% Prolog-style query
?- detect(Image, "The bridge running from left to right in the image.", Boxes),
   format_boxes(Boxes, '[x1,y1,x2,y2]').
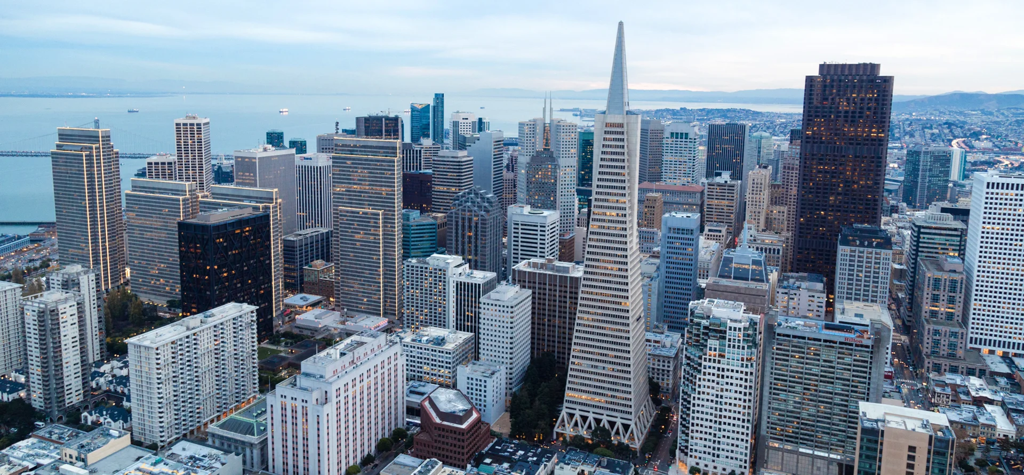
[0,117,247,162]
